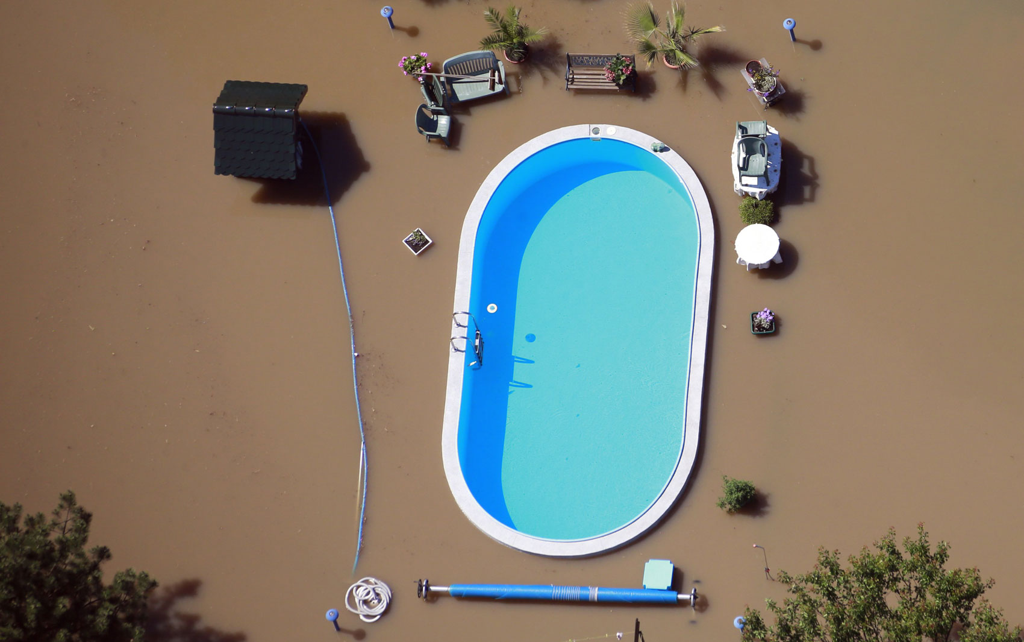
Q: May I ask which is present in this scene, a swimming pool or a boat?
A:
swimming pool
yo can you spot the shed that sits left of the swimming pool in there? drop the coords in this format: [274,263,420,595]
[214,80,312,179]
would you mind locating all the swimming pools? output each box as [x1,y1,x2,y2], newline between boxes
[442,124,714,559]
